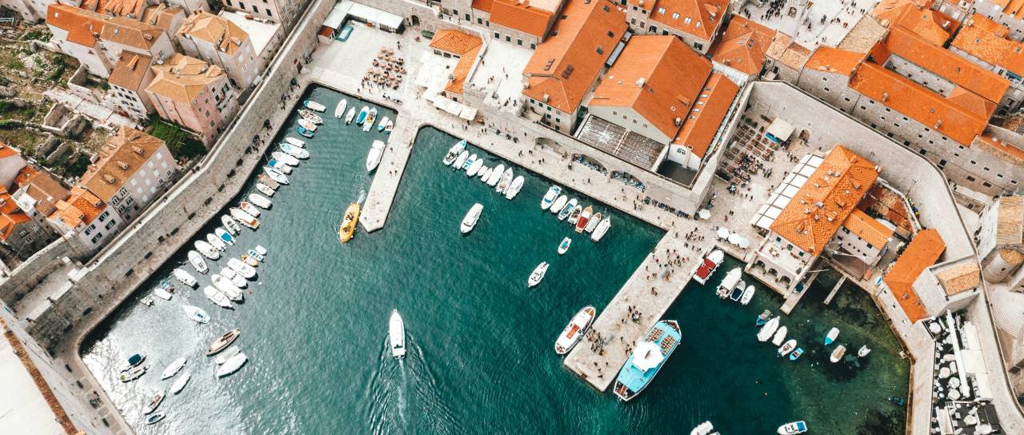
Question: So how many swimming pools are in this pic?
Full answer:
I count no swimming pools.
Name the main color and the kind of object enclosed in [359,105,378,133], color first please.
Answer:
white boat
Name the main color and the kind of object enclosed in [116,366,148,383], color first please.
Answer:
white boat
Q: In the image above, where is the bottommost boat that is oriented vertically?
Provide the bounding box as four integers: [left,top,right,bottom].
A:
[388,307,406,361]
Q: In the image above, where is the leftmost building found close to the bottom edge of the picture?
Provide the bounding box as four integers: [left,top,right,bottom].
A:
[0,307,109,435]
